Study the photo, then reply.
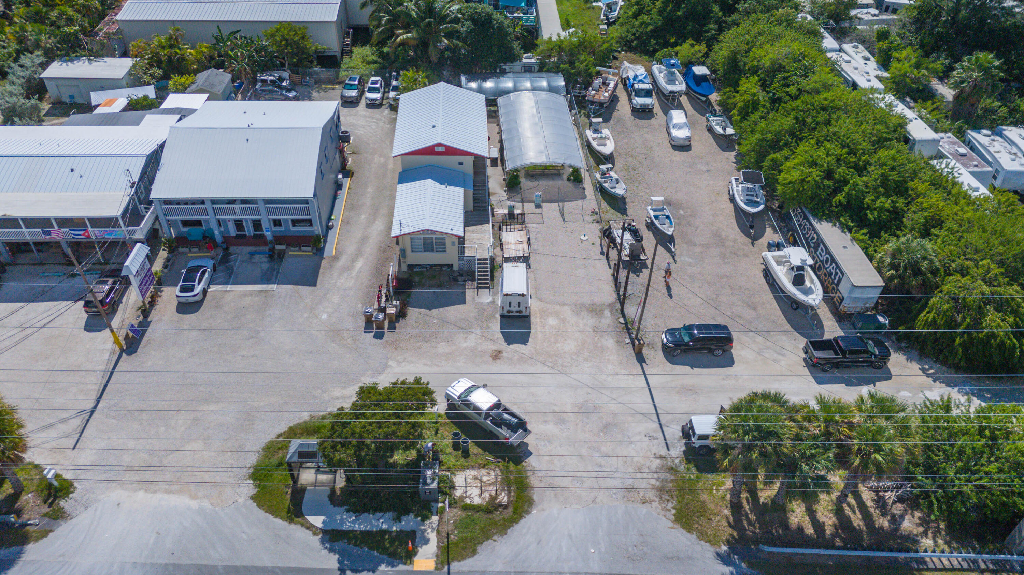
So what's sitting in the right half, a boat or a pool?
boat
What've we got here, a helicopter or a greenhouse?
greenhouse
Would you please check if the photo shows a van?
Yes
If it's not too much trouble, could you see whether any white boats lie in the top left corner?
No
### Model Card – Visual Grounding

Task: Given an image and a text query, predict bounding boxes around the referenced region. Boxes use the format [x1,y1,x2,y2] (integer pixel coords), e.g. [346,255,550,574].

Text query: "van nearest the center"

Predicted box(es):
[497,269,534,318]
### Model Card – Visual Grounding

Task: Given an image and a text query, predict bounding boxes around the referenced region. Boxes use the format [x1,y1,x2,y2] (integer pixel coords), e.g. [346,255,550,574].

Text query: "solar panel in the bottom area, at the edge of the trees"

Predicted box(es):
[295,447,323,463]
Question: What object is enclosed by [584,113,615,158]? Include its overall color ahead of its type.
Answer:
white boat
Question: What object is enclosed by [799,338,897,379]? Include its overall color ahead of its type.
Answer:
black truck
